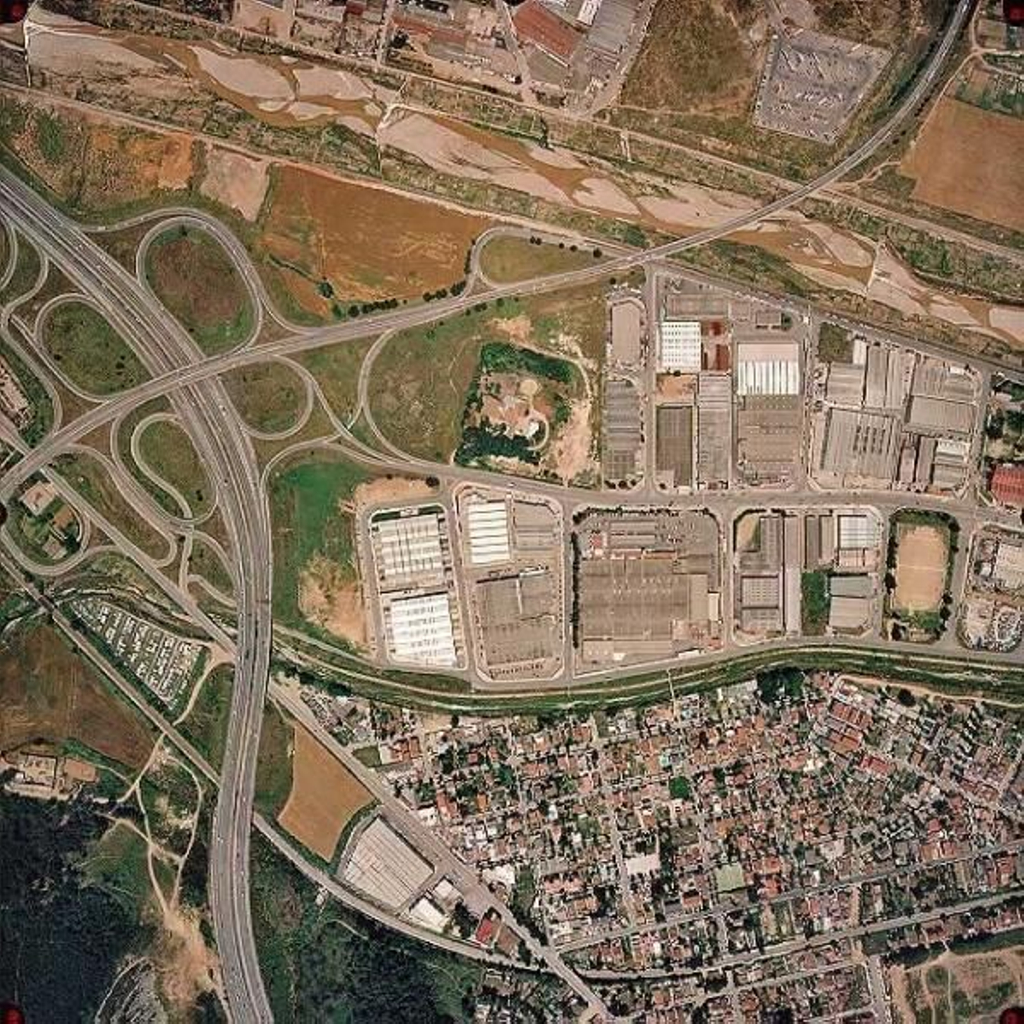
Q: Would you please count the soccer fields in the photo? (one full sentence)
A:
The photo contains exactly 1 soccer field.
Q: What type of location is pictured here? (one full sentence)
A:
What you see here is a residential area.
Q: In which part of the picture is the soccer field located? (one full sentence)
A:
The soccer field sits in the right section of the image.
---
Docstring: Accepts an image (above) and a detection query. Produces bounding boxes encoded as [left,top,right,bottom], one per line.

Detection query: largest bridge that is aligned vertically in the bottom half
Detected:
[232,612,272,698]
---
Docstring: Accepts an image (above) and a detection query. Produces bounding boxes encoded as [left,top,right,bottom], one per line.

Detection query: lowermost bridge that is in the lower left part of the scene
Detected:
[216,775,256,810]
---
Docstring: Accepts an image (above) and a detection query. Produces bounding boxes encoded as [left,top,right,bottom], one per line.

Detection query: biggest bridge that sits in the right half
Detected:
[639,171,831,261]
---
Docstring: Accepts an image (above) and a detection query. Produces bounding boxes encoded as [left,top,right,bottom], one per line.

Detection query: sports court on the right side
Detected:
[717,864,746,895]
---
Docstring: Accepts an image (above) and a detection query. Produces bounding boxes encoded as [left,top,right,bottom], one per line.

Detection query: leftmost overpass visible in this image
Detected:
[15,445,52,478]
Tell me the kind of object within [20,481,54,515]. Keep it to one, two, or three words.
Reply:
house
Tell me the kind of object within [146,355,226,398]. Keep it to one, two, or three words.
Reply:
overpass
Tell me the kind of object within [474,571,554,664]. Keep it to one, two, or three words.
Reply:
building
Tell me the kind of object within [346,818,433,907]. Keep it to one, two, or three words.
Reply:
building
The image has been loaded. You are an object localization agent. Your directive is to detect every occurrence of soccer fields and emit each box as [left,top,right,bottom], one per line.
[894,525,948,609]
